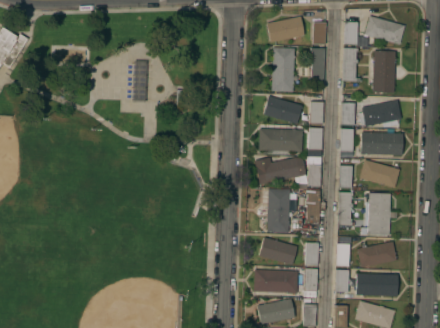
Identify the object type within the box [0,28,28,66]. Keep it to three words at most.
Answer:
building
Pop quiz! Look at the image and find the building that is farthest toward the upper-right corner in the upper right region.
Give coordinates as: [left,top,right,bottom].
[366,16,406,46]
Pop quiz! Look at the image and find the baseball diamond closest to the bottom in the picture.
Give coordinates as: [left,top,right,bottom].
[34,210,199,328]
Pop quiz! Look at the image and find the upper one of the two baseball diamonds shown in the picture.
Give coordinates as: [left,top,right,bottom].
[0,104,82,250]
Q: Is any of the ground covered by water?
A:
No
